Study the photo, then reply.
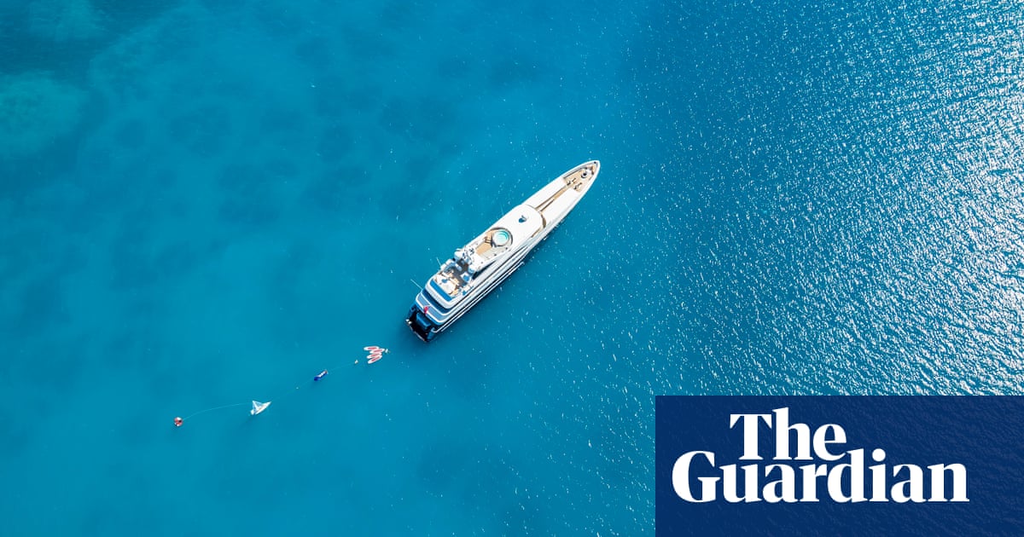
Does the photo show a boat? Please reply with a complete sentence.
Yes, there is a boat in the image.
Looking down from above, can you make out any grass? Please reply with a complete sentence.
No, there is no grass in the image.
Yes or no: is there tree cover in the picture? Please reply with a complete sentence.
No, tree cover can't be seen anywhere here.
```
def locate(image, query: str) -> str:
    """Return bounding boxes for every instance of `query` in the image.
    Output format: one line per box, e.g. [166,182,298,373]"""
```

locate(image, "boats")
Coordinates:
[407,160,601,341]
[314,370,329,380]
[250,400,272,415]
